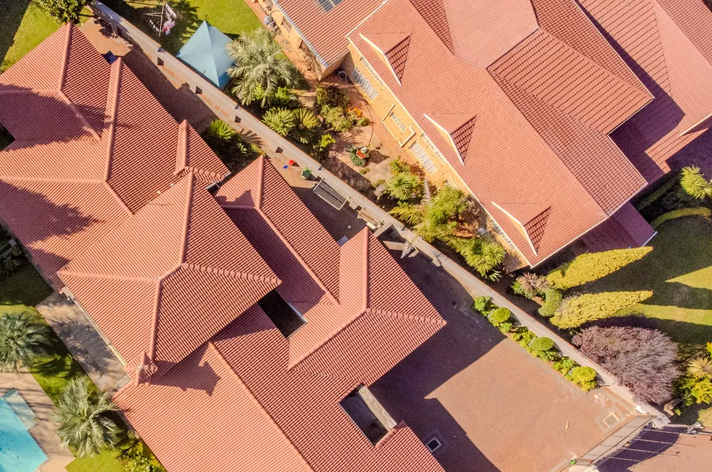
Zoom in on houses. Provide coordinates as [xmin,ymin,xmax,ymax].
[253,0,712,267]
[0,21,447,472]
